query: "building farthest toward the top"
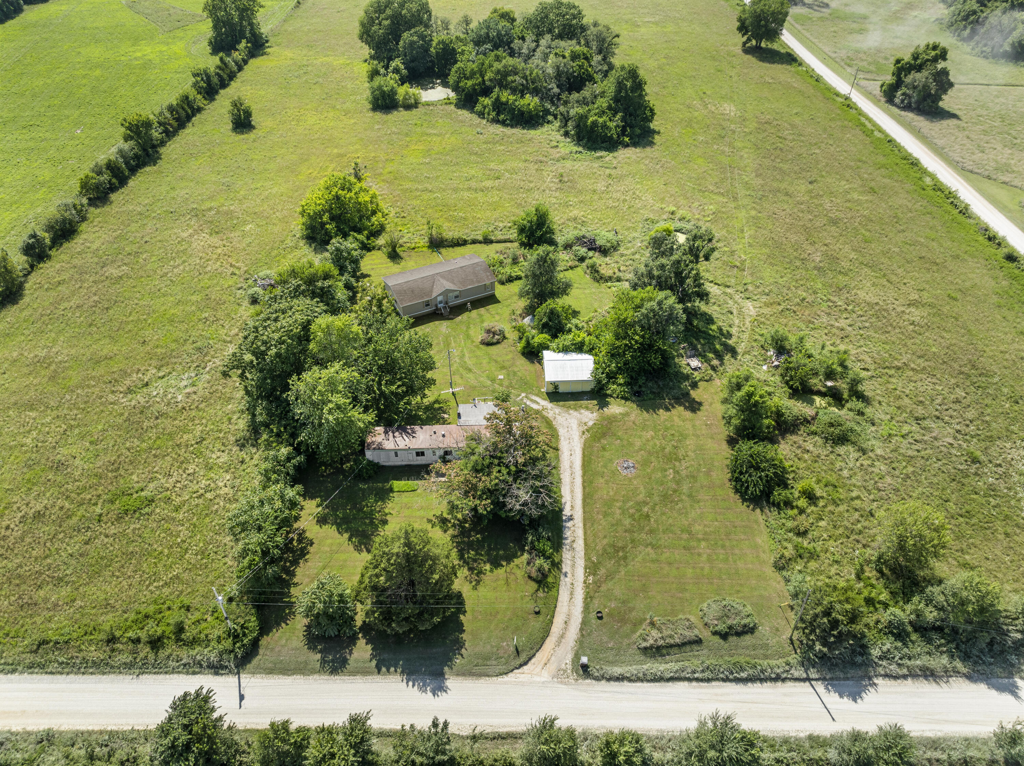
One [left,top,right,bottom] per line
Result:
[385,254,496,318]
